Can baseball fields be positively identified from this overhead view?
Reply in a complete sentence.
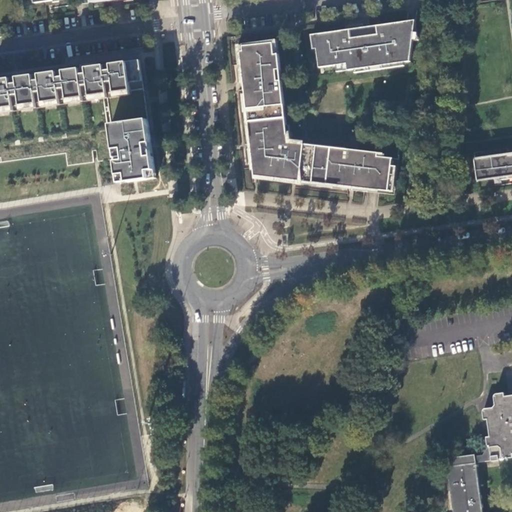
No, I can see no baseball field in this picture.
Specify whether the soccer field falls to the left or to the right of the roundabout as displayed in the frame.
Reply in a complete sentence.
The soccer field can be seen on the left of the roundabout.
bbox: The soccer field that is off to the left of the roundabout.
[0,194,150,512]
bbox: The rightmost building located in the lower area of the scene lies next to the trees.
[475,392,512,463]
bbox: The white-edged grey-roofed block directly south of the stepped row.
[106,118,157,188]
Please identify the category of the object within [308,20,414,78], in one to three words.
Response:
building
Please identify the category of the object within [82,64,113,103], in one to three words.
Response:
house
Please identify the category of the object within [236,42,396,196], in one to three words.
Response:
building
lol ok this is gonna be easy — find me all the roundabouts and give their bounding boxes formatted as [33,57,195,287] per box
[176,229,252,304]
